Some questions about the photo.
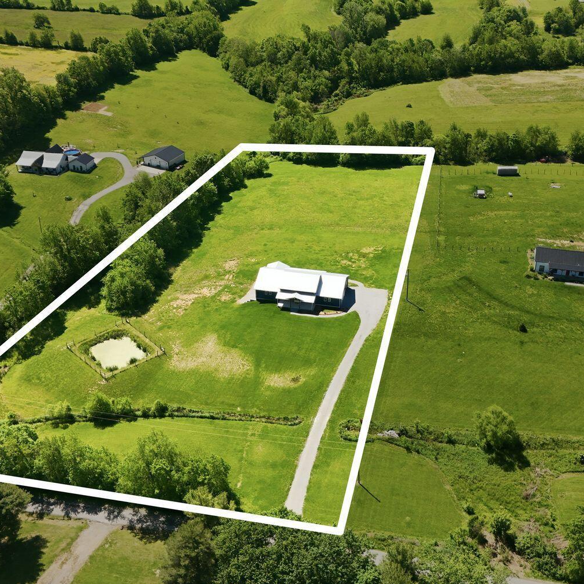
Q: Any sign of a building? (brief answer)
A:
Yes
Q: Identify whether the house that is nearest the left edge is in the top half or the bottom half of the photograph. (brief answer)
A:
top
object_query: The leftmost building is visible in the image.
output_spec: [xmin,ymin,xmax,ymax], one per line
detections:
[16,144,73,175]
